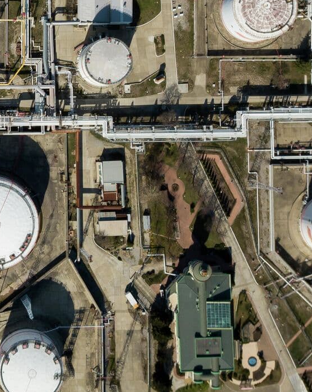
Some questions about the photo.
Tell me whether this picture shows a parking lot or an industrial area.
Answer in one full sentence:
The area seen from above is an industrial area.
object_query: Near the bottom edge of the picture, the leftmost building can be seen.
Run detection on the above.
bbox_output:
[169,253,234,391]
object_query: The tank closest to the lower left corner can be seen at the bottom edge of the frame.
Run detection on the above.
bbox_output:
[0,319,69,392]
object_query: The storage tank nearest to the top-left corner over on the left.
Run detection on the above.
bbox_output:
[70,34,133,92]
